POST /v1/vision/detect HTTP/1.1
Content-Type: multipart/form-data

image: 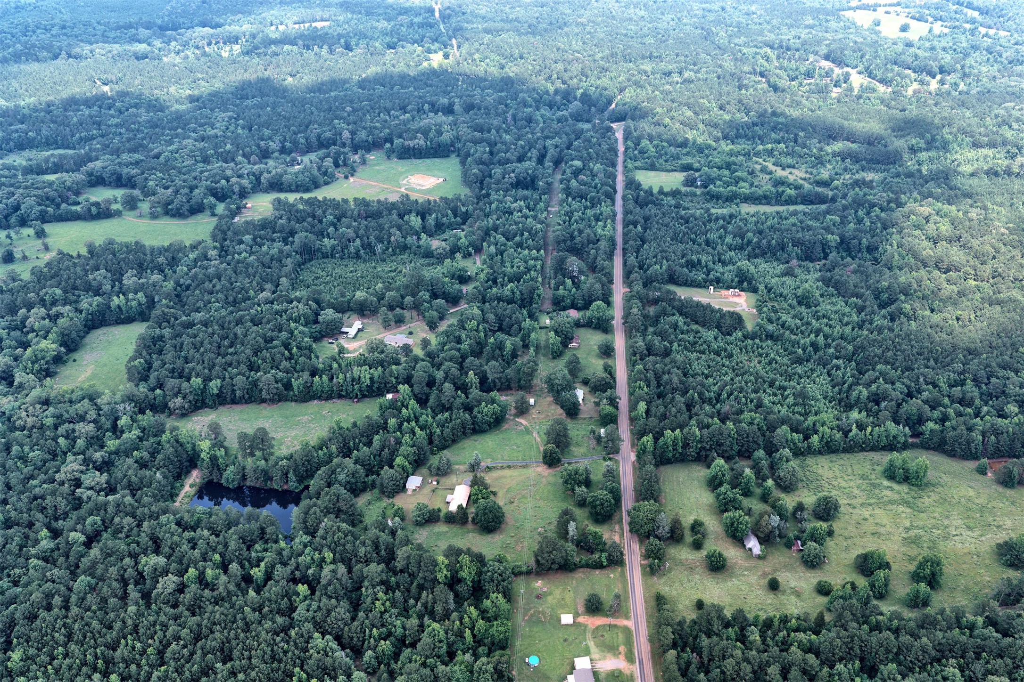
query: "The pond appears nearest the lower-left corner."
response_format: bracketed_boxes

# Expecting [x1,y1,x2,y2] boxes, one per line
[186,481,314,551]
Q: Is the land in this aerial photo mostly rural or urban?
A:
rural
